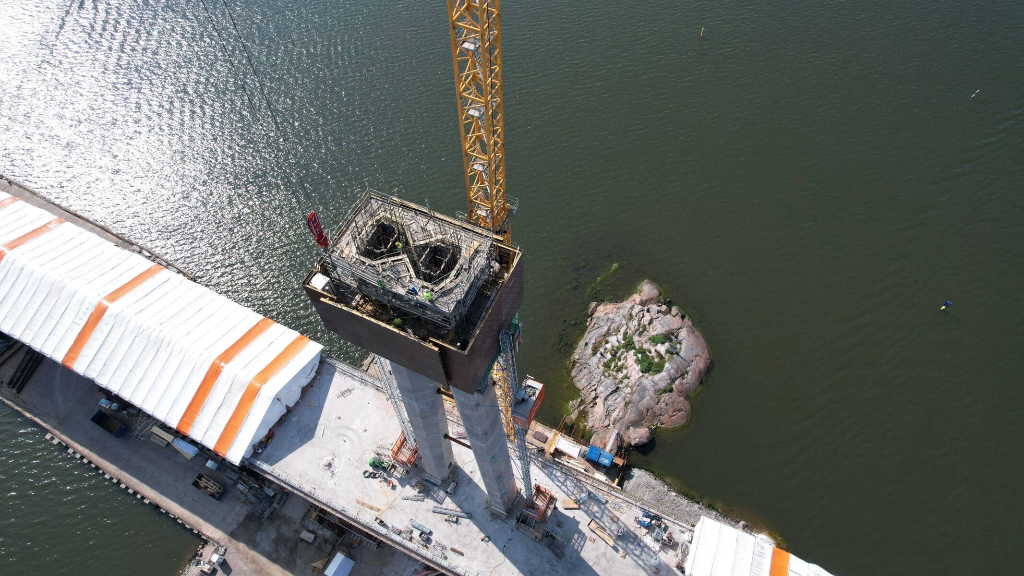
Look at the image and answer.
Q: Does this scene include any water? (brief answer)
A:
Yes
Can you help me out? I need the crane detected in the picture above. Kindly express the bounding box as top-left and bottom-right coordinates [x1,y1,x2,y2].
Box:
[445,0,523,445]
